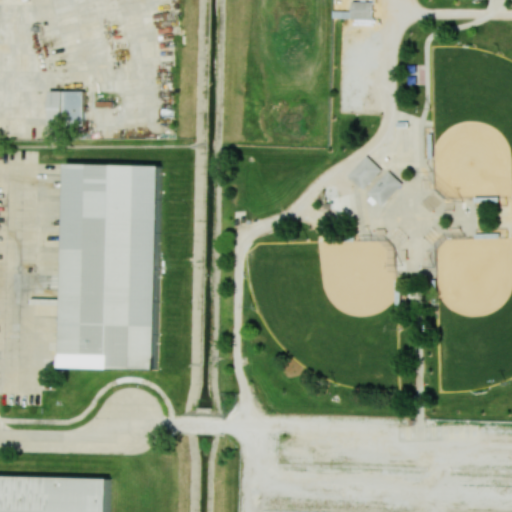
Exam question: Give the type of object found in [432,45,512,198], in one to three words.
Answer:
baseball field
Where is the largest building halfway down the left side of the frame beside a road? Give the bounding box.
[57,165,162,370]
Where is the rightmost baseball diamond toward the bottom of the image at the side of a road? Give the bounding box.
[438,240,512,393]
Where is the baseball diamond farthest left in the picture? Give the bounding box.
[246,240,402,392]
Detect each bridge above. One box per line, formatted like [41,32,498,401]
[184,408,226,434]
